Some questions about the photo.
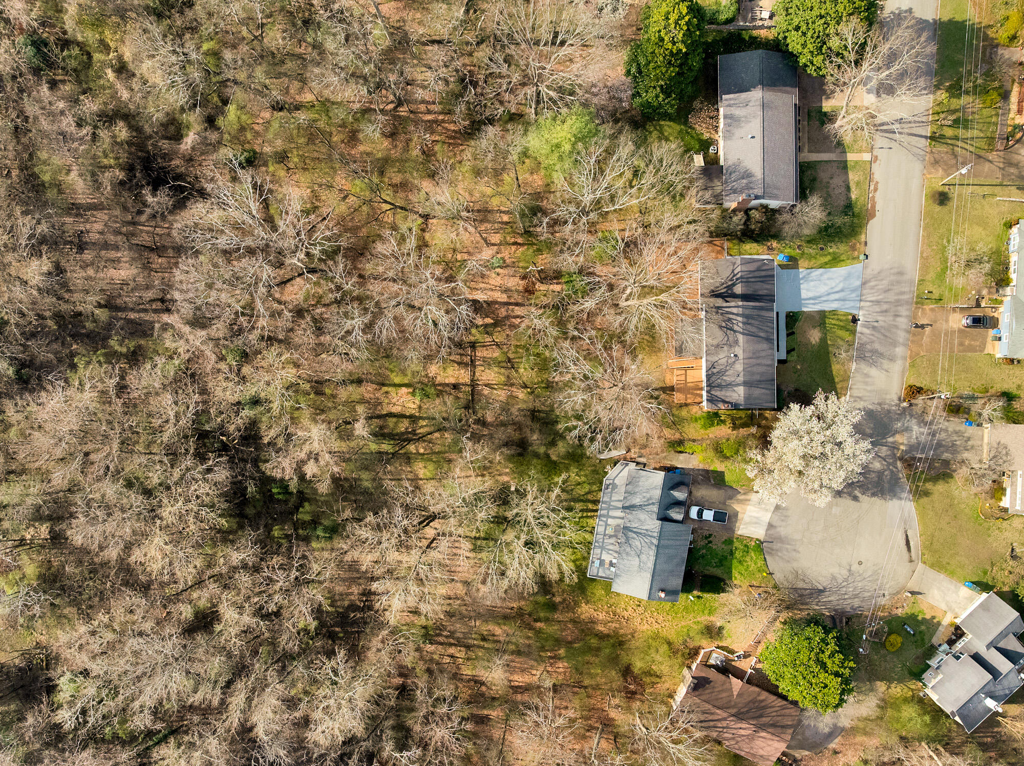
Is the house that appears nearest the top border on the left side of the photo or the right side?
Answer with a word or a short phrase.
right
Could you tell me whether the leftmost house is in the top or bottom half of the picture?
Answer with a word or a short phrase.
bottom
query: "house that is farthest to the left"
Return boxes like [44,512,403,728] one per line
[585,459,691,602]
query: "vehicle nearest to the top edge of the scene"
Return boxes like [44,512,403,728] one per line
[962,314,996,329]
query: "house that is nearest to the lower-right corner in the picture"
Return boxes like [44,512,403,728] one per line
[913,590,1024,726]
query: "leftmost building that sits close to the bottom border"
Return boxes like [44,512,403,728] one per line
[664,638,795,764]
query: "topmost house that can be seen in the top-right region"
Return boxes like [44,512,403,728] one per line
[691,49,798,214]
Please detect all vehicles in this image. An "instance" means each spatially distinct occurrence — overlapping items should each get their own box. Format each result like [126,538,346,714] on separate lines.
[962,314,996,329]
[688,506,729,524]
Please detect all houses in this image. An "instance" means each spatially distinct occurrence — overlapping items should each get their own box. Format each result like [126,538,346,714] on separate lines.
[664,638,795,764]
[691,49,798,214]
[992,220,1024,358]
[666,258,786,410]
[913,590,1024,726]
[980,424,1024,513]
[585,459,691,602]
